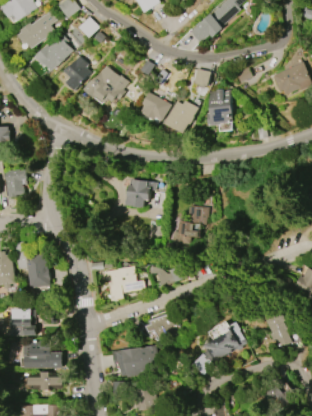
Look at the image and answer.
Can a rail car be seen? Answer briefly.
No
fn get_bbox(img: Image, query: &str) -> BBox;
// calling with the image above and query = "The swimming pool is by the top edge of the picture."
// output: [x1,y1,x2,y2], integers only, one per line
[252,12,272,35]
